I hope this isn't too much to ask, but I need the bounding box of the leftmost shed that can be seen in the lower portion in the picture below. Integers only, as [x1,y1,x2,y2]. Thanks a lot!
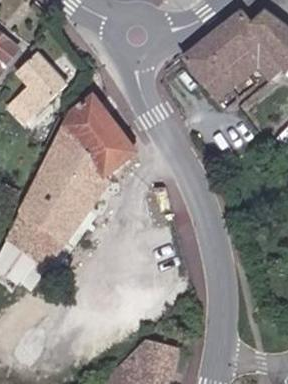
[0,242,20,276]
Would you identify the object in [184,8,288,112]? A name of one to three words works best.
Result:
house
